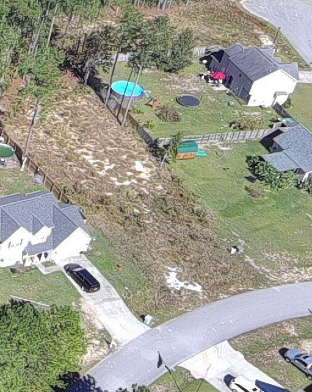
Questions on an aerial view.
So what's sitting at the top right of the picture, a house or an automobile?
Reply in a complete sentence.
Visible at the top right of the picture is a house.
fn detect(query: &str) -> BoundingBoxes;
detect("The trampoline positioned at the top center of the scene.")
[175,95,202,109]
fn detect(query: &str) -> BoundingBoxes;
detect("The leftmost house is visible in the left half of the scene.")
[0,193,96,270]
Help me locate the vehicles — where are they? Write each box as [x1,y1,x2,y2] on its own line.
[65,264,105,294]
[278,349,312,379]
[226,377,264,392]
